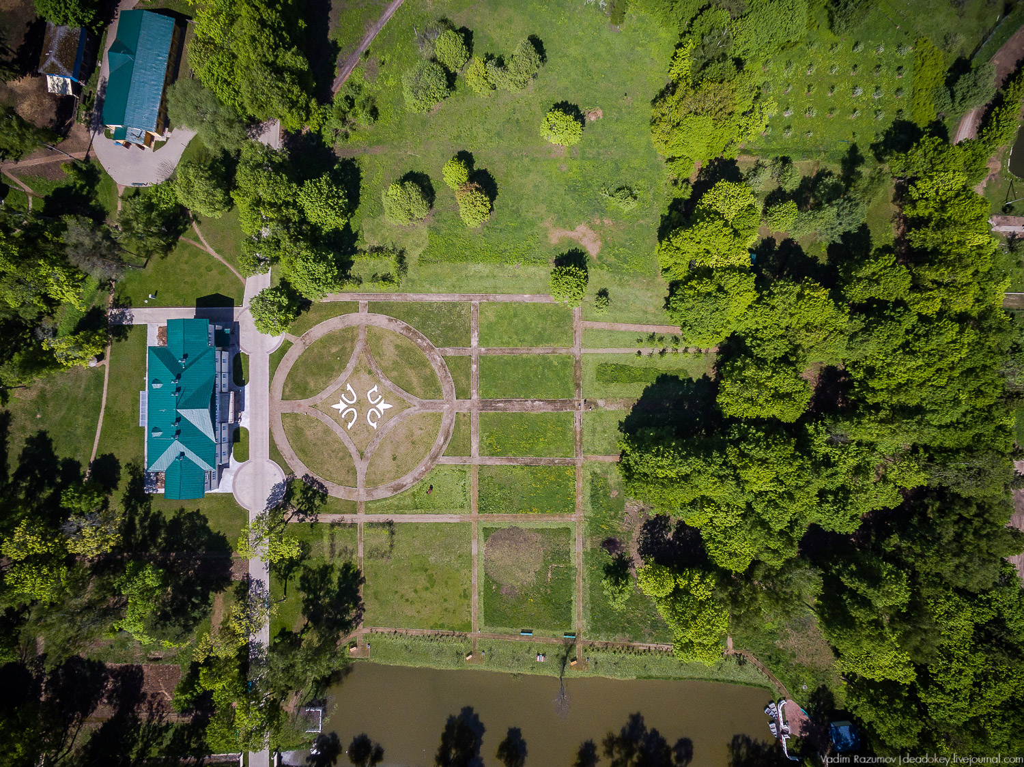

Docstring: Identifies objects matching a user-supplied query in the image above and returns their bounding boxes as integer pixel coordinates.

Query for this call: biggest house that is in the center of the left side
[139,318,247,500]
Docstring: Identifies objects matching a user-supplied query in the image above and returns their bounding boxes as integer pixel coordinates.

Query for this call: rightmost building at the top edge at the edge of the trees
[104,8,187,152]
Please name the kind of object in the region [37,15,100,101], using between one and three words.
house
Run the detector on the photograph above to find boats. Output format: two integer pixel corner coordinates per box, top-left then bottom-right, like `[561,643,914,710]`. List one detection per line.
[768,702,777,717]
[763,707,776,718]
[768,722,776,737]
